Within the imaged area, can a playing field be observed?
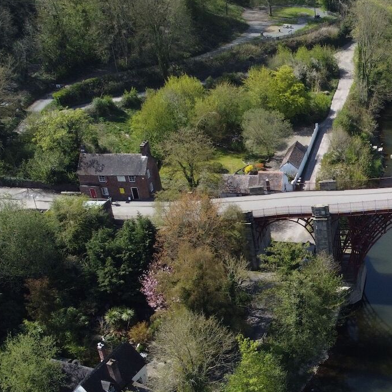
No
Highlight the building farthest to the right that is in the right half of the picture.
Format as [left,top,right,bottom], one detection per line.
[281,137,312,186]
